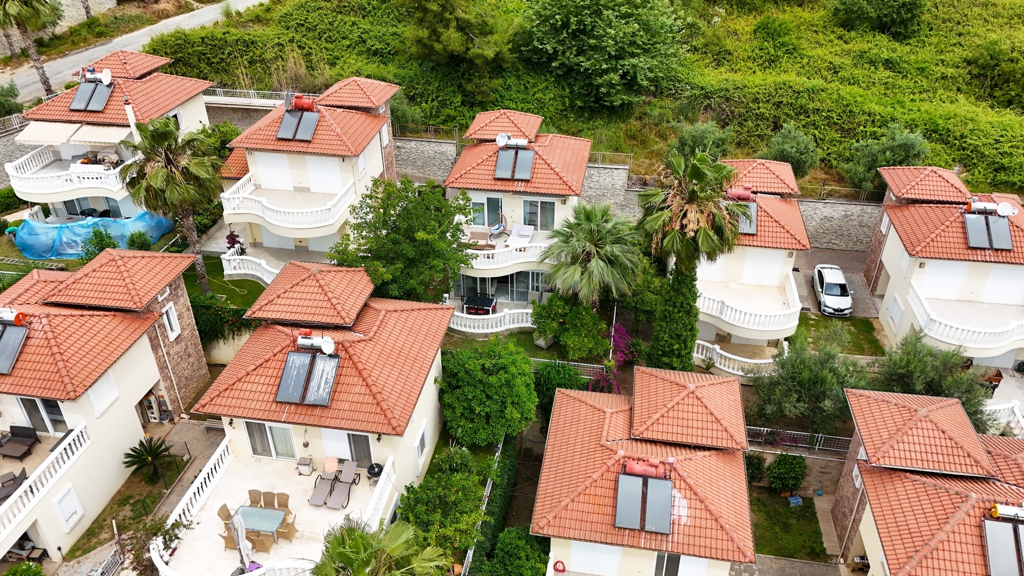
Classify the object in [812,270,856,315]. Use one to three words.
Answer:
car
